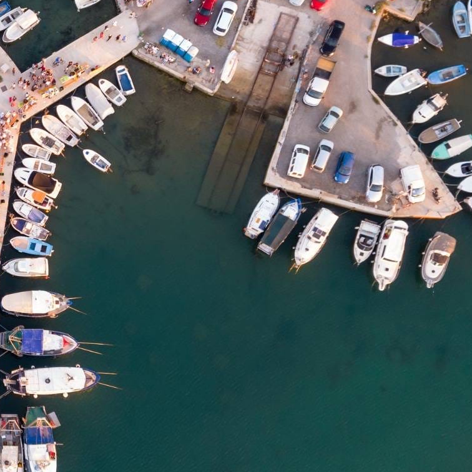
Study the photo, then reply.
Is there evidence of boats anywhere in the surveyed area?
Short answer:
Yes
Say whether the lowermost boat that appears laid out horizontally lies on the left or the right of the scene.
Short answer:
left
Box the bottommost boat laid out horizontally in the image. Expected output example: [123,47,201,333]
[0,363,118,398]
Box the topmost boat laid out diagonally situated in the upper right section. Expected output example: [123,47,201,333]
[418,21,443,52]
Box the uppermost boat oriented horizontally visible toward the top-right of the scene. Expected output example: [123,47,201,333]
[378,32,420,50]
